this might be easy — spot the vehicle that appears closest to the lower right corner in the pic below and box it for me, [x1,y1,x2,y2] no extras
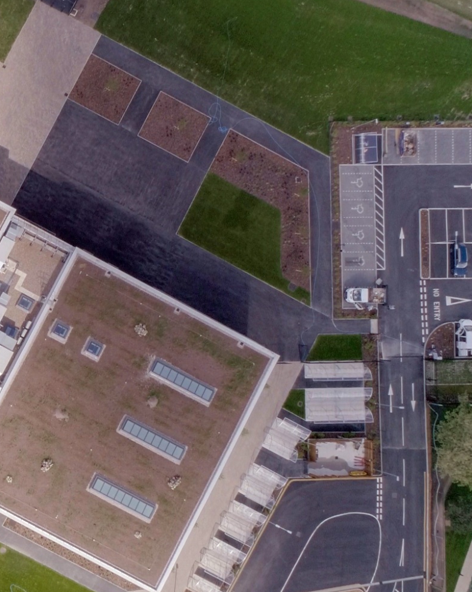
[454,314,472,354]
